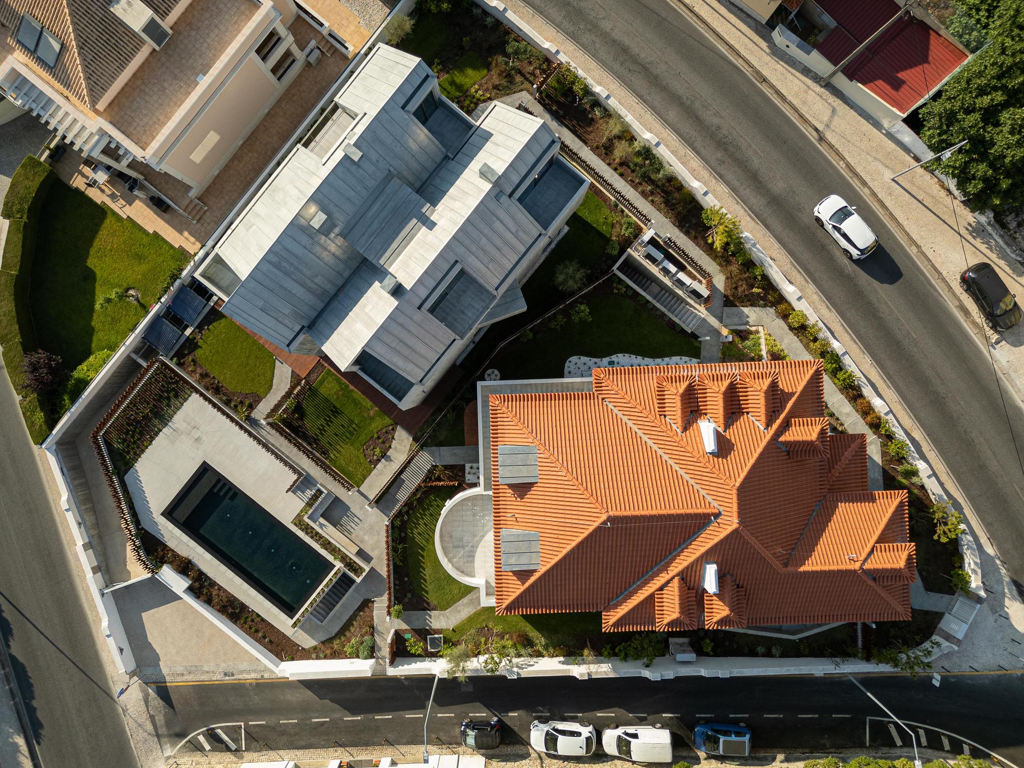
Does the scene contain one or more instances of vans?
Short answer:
Yes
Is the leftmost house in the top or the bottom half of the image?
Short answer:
top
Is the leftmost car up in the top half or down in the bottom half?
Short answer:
bottom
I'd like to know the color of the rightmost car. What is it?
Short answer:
black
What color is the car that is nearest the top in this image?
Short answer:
white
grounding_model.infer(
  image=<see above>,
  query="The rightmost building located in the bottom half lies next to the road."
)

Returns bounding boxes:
[433,358,919,640]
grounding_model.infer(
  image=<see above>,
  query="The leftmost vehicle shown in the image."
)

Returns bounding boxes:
[458,719,502,755]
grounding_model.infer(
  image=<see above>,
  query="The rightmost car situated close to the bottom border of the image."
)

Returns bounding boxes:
[693,721,755,758]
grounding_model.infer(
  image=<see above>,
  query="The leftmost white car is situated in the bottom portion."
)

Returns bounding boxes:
[528,721,596,760]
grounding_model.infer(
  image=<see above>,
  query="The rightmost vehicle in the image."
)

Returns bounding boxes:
[962,264,1024,326]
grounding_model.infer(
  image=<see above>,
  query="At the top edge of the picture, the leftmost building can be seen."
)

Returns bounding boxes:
[0,0,320,195]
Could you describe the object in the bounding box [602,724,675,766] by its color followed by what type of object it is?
white van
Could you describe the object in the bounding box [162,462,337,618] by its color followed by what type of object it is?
black swimming pool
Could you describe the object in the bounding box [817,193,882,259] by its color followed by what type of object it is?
white car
